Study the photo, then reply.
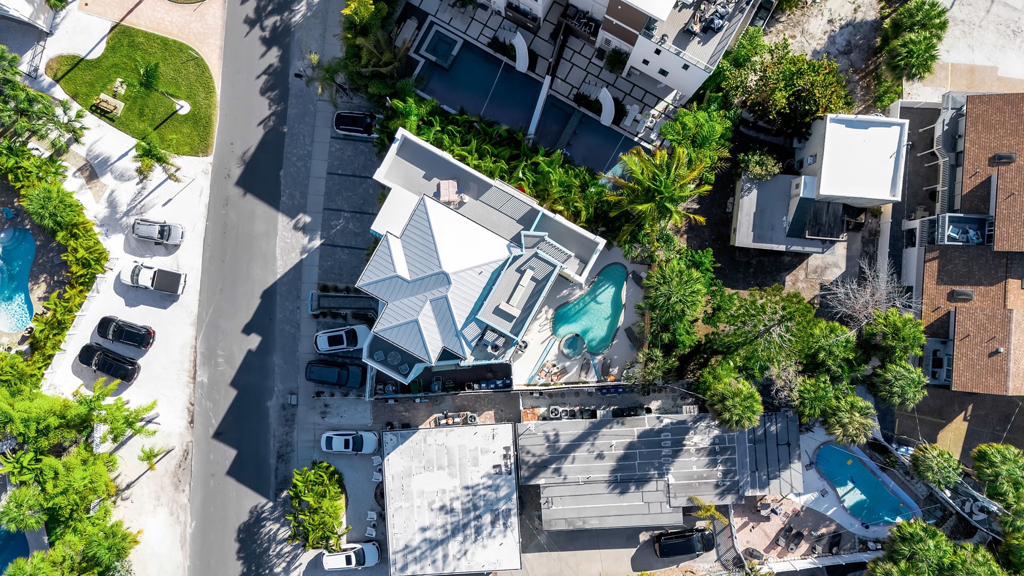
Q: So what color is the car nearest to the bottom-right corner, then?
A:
black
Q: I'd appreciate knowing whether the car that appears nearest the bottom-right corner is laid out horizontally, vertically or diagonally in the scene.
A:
horizontally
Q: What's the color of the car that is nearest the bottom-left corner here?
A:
black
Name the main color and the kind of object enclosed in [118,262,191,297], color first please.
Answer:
white truck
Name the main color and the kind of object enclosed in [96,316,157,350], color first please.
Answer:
black car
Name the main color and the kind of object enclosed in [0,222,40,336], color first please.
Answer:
blue swimming pool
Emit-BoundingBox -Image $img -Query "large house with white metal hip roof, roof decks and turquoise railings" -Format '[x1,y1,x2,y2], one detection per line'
[355,128,607,385]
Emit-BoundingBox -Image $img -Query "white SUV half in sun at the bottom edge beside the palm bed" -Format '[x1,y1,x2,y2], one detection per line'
[323,543,381,572]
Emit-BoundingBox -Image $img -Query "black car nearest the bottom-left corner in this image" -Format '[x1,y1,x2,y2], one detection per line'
[79,344,142,382]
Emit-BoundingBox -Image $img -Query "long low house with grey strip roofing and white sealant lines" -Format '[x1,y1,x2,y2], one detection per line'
[518,406,802,531]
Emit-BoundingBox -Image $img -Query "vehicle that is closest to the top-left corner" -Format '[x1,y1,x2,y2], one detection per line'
[127,219,186,246]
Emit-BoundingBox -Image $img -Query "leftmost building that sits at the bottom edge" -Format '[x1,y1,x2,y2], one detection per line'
[383,422,521,576]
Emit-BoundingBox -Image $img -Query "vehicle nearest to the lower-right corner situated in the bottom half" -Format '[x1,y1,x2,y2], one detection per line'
[651,532,712,563]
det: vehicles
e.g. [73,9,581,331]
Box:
[323,543,381,572]
[118,262,191,297]
[79,344,142,382]
[127,219,186,246]
[96,316,157,350]
[306,361,367,391]
[323,431,381,458]
[312,325,371,354]
[651,532,712,563]
[331,110,388,136]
